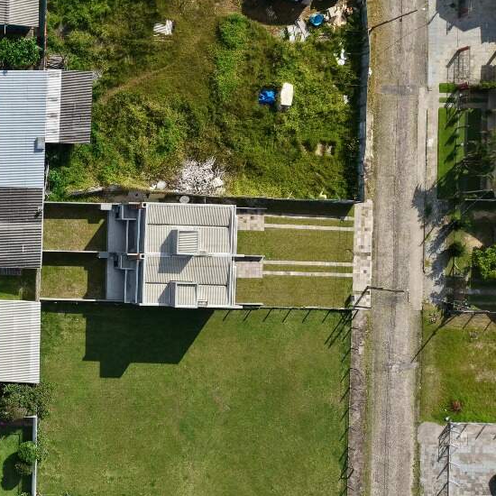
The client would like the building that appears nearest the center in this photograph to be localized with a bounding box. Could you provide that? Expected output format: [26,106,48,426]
[96,204,269,309]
